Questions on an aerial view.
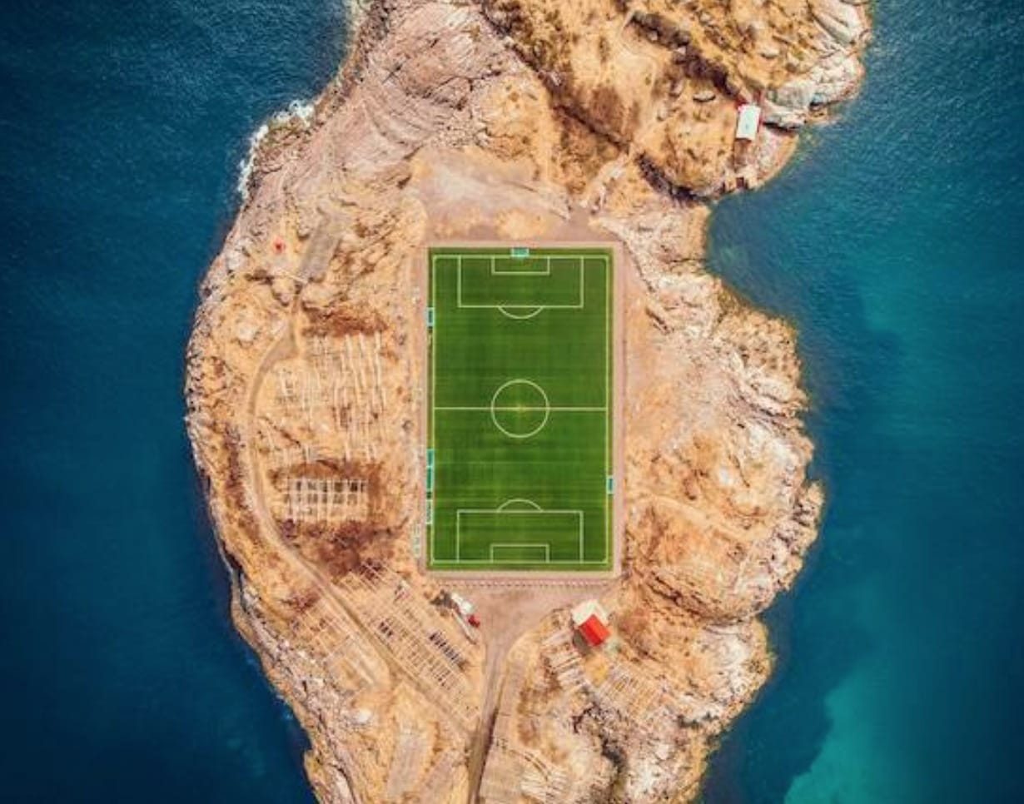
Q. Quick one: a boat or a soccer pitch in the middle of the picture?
soccer pitch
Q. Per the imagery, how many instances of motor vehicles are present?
1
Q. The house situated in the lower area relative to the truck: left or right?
right of it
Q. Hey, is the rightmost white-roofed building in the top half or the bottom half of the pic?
top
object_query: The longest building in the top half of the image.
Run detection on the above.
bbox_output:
[734,102,759,144]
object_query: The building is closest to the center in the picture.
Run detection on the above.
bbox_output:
[567,596,610,644]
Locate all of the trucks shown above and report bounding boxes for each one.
[452,593,480,625]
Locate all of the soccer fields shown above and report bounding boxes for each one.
[419,239,621,579]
